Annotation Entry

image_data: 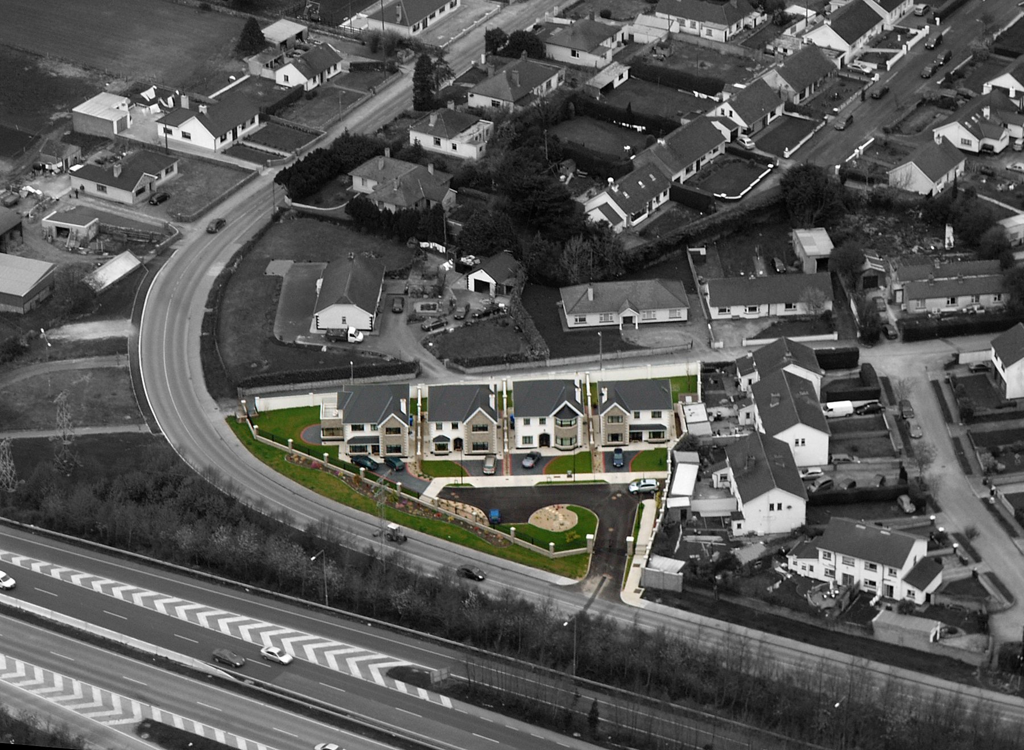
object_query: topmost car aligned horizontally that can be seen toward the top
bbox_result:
[847,62,873,75]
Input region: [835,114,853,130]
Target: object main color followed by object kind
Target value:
gray car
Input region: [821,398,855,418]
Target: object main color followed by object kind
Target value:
white vehicle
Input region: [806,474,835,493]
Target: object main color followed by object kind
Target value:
gray car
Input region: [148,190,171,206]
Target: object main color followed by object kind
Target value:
black car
